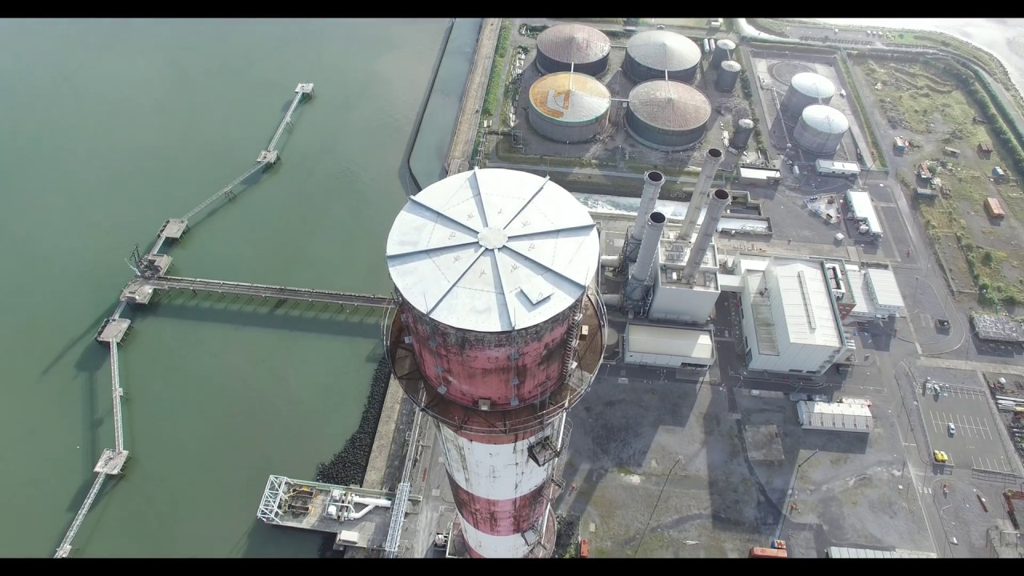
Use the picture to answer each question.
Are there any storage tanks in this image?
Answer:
Yes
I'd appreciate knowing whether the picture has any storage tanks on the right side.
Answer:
Yes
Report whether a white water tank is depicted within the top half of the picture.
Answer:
Yes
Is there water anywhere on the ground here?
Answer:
Yes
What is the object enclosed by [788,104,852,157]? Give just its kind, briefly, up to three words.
water tank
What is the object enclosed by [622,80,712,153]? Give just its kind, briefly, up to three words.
storage tank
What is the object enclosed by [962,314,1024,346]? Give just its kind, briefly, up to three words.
shed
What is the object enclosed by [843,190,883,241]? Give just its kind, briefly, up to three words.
building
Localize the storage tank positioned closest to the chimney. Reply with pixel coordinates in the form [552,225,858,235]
[526,73,611,144]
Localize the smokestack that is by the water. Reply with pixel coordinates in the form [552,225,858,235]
[380,156,607,576]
